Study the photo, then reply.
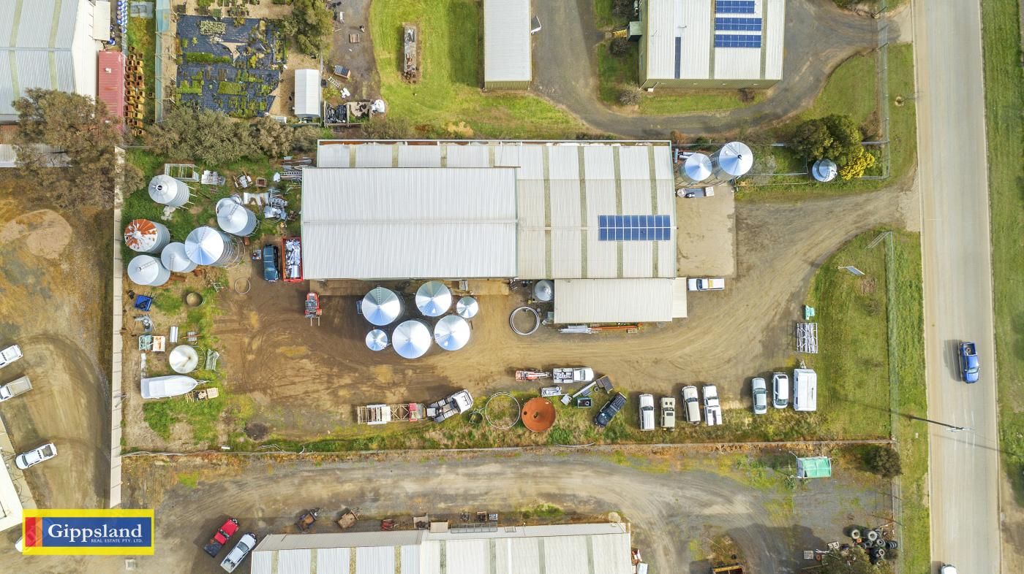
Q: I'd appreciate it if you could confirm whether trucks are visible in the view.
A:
Yes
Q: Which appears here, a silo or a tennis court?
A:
silo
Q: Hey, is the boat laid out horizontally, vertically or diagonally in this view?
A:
horizontally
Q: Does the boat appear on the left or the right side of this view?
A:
left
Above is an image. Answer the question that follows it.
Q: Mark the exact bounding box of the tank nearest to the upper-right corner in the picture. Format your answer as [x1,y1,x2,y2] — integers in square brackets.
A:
[805,159,835,185]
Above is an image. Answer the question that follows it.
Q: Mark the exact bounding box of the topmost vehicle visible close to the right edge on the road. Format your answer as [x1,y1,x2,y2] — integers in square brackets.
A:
[957,342,979,384]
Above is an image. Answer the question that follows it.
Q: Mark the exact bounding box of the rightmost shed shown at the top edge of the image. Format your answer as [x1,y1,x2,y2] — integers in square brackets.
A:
[641,0,785,89]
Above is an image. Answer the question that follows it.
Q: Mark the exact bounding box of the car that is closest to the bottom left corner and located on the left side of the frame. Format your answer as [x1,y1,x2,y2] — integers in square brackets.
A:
[9,524,45,557]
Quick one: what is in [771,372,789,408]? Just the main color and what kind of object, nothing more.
white car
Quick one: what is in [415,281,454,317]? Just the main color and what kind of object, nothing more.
white silo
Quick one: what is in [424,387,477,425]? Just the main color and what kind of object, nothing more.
white truck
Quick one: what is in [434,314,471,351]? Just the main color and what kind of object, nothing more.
white silo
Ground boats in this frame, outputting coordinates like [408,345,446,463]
[137,378,208,400]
